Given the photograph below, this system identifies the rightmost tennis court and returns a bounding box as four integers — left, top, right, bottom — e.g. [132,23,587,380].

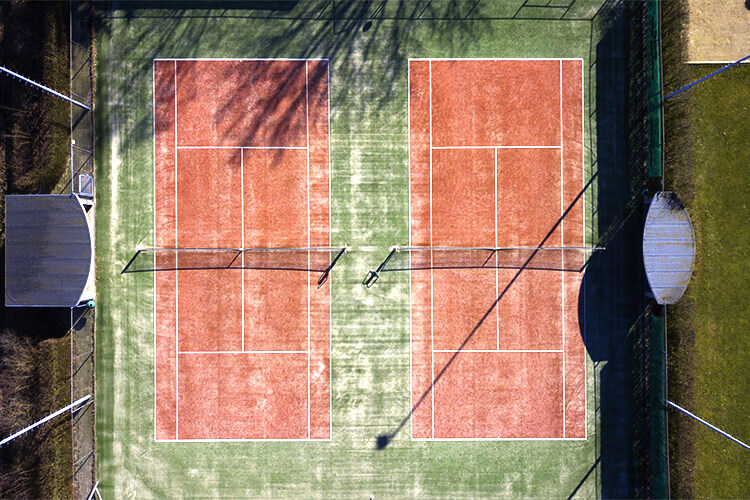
[408,58,587,441]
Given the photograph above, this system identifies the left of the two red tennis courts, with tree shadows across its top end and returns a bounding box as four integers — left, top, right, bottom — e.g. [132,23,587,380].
[153,59,332,442]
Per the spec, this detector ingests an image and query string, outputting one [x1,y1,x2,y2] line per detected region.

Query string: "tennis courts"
[153,59,332,442]
[408,58,587,441]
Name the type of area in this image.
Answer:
sports ground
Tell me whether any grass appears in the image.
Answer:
Yes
